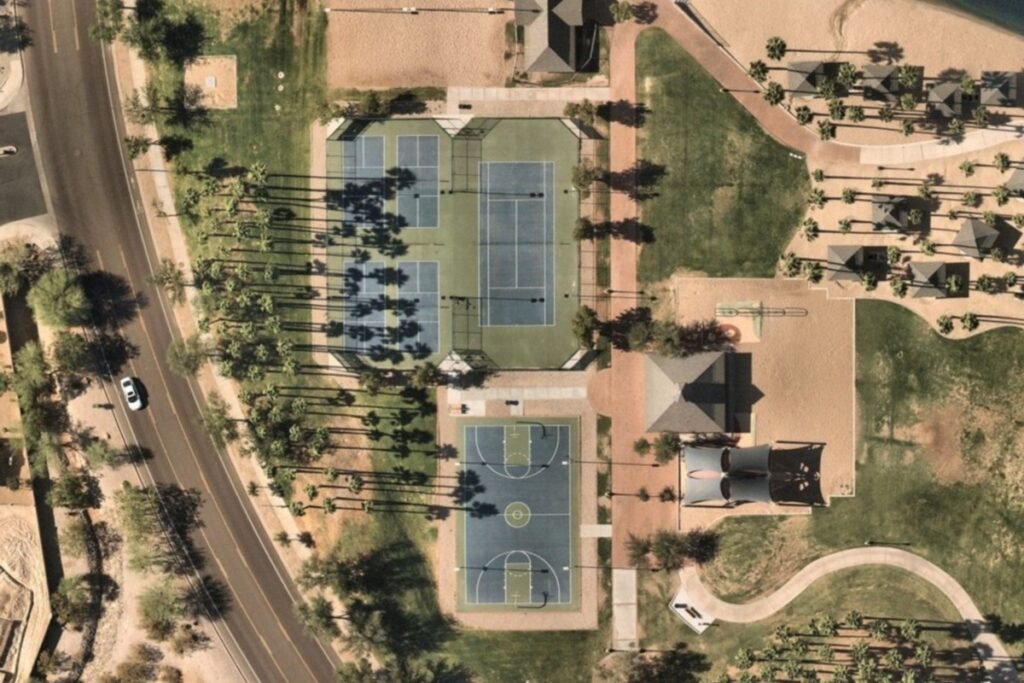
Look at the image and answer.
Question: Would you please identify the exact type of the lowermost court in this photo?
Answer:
basketball court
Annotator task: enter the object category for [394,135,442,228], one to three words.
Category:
sports court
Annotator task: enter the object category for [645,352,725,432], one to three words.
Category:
building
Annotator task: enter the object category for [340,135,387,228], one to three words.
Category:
sports court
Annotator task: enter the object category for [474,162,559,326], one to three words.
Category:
tennis court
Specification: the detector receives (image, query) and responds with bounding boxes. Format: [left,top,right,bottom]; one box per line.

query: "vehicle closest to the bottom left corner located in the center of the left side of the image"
[121,377,139,411]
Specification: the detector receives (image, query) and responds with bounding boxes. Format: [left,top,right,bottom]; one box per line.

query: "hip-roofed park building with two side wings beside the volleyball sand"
[514,0,582,72]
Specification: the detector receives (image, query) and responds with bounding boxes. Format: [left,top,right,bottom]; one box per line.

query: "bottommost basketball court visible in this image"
[456,417,580,612]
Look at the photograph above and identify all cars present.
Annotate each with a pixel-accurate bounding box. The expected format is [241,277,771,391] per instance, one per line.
[0,144,16,158]
[121,377,139,411]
